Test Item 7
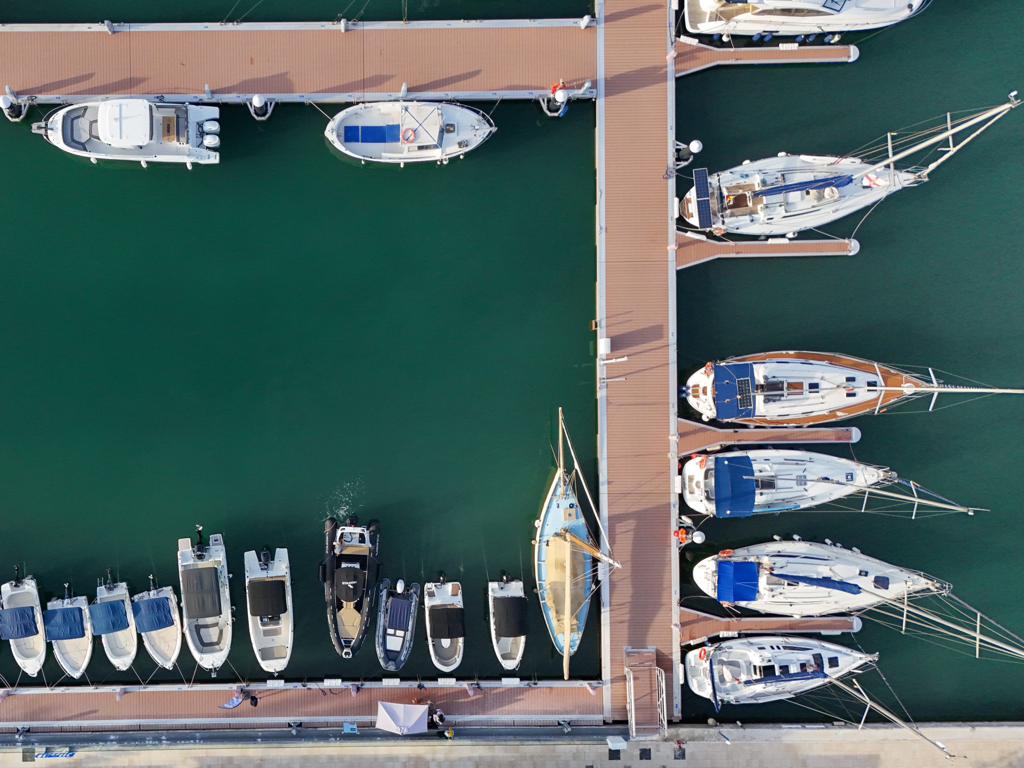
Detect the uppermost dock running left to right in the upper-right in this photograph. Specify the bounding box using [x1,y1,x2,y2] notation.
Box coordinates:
[675,36,859,79]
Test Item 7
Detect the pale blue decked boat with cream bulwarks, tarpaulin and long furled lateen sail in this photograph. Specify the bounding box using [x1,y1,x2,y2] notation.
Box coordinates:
[534,406,623,680]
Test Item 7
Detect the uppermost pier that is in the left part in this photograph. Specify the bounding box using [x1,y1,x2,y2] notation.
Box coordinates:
[0,18,596,123]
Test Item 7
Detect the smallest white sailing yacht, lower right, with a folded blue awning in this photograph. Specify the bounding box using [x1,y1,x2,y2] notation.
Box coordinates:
[683,635,968,761]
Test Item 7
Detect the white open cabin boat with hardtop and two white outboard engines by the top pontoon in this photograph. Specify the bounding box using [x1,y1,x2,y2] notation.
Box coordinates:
[32,99,222,167]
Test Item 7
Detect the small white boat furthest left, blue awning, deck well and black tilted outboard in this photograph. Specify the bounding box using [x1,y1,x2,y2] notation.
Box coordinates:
[0,564,48,677]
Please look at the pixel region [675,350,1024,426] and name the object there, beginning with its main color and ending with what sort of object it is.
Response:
white boat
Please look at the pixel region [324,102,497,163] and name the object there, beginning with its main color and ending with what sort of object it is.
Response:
white boat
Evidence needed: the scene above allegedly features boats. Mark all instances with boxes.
[683,635,968,761]
[692,540,1024,665]
[678,90,1023,236]
[376,578,419,672]
[45,583,94,679]
[675,350,1024,426]
[178,527,232,677]
[488,569,526,670]
[681,449,990,519]
[90,568,138,671]
[244,547,294,676]
[324,515,380,658]
[534,406,623,680]
[424,570,465,672]
[324,102,497,163]
[0,564,48,677]
[32,99,222,167]
[676,0,930,41]
[133,575,182,670]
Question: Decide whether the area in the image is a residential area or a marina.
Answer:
marina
